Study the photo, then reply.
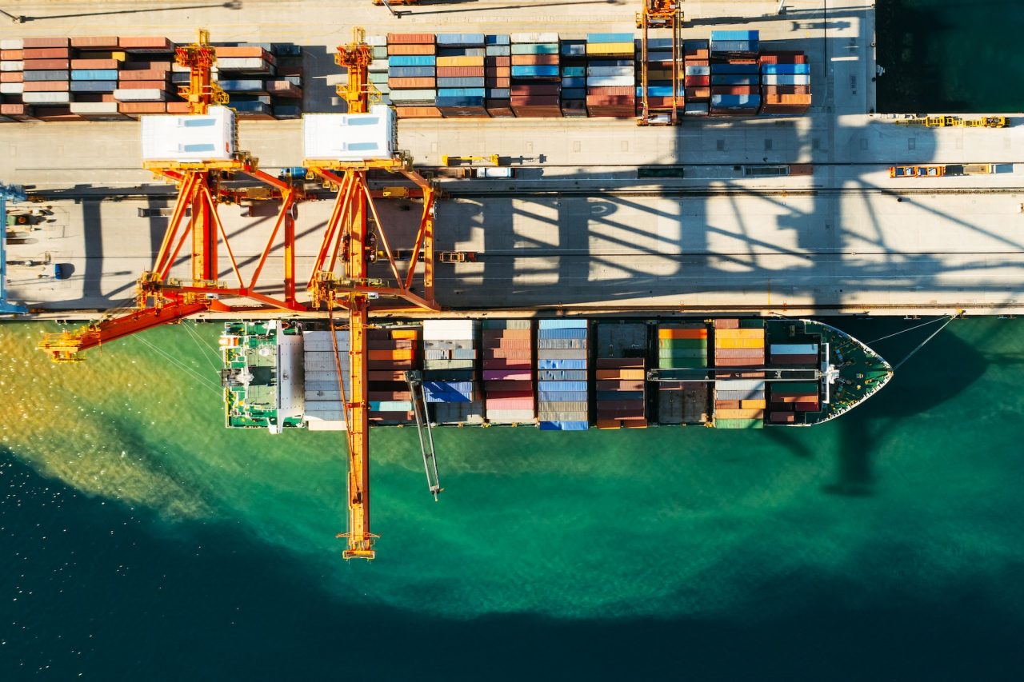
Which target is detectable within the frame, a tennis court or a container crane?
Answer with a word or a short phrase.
container crane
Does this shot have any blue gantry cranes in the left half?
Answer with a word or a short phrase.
Yes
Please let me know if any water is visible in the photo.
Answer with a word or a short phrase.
Yes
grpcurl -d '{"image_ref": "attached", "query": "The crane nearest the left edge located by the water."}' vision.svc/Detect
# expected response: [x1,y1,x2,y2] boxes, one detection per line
[0,177,50,313]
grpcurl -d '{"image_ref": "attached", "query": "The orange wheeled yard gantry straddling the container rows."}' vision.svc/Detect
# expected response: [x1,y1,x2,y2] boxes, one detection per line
[634,0,682,124]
